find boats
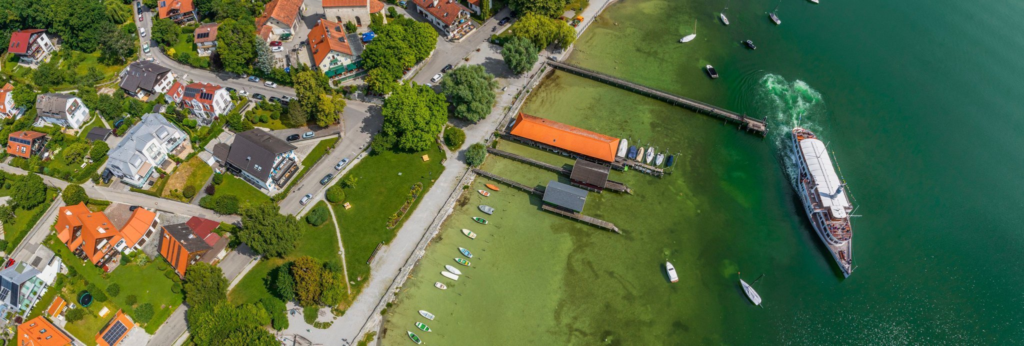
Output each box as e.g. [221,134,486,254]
[769,0,783,25]
[666,261,679,284]
[471,216,488,225]
[720,1,731,26]
[449,256,471,267]
[646,146,656,164]
[740,274,762,306]
[483,183,500,192]
[435,282,448,291]
[667,155,674,167]
[706,65,720,80]
[445,264,463,275]
[656,151,664,166]
[637,147,644,162]
[419,310,435,321]
[458,226,477,240]
[415,321,432,332]
[478,205,495,215]
[435,269,459,282]
[743,39,757,51]
[627,145,637,160]
[616,138,628,158]
[459,247,474,259]
[406,330,422,345]
[679,19,696,43]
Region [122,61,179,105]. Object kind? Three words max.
house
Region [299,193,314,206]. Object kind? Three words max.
vehicle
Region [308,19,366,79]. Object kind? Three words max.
building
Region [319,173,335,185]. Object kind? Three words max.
vehicle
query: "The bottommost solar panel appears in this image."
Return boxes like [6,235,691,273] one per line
[99,319,133,346]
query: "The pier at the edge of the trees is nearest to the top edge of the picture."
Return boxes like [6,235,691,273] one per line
[546,57,743,123]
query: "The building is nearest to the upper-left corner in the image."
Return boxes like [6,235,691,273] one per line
[5,28,53,65]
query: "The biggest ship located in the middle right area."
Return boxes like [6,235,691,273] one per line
[789,118,856,278]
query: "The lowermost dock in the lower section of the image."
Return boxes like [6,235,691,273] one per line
[541,204,621,233]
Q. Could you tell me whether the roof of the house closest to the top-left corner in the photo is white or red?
red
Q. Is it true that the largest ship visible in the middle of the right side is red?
No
